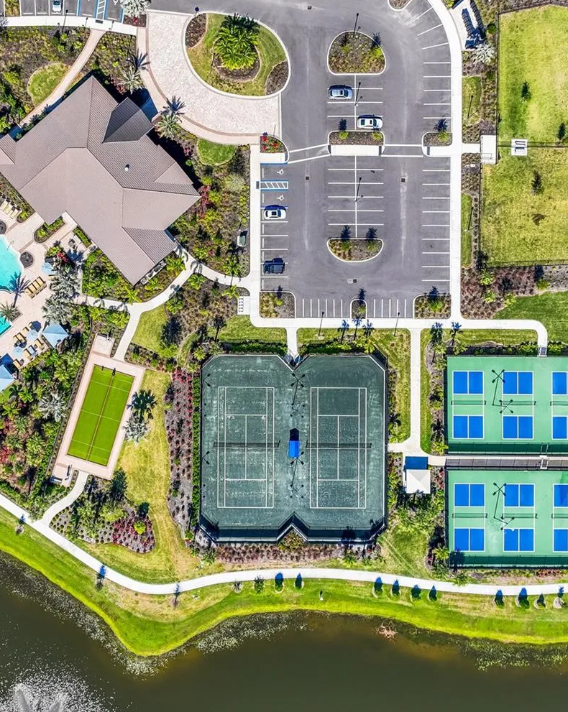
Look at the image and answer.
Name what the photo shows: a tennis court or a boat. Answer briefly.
tennis court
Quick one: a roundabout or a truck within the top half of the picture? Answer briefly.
roundabout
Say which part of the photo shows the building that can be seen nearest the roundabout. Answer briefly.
top left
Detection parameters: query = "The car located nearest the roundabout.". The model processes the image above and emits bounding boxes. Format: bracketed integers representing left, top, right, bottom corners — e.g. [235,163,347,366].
[329,86,352,99]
